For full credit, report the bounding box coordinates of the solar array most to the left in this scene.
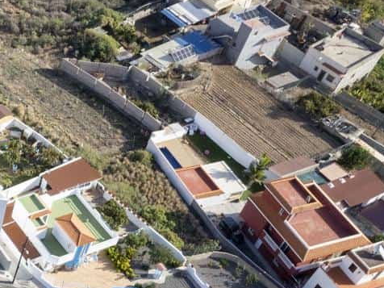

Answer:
[170,45,197,61]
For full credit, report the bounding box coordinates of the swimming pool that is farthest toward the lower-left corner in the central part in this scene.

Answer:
[161,149,184,171]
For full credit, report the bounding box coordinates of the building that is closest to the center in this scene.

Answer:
[151,122,188,151]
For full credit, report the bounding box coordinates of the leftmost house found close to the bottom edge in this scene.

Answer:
[5,193,116,279]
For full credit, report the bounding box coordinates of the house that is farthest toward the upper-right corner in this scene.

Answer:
[300,22,384,90]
